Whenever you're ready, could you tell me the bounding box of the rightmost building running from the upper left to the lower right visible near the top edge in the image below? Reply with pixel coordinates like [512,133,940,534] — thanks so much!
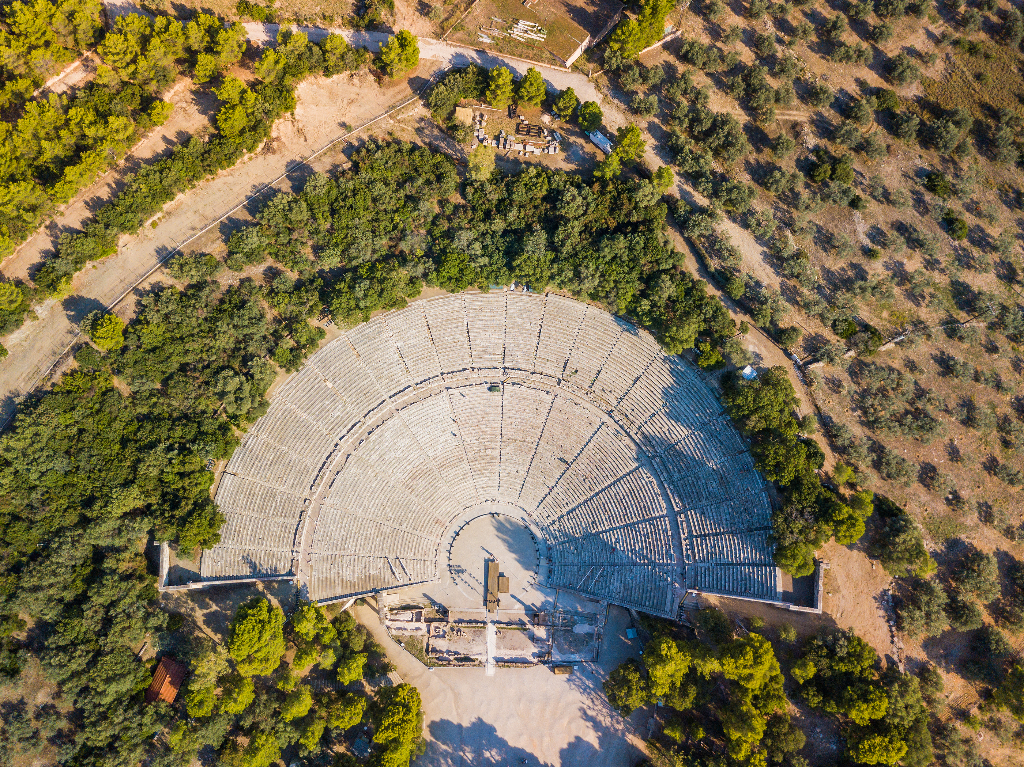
[497,0,588,69]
